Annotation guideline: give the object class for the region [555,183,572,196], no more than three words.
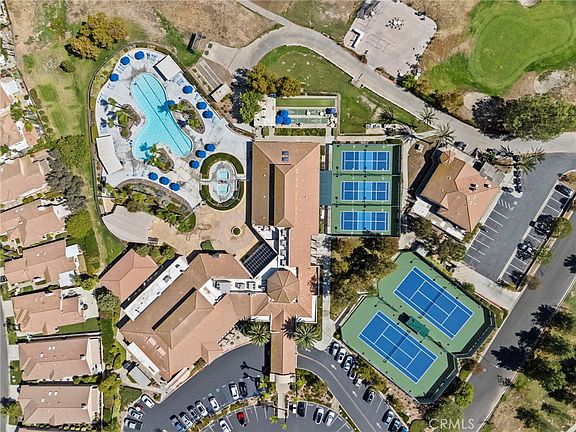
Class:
vehicle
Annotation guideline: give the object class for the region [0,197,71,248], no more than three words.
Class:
house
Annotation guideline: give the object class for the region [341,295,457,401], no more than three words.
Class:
tennis court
